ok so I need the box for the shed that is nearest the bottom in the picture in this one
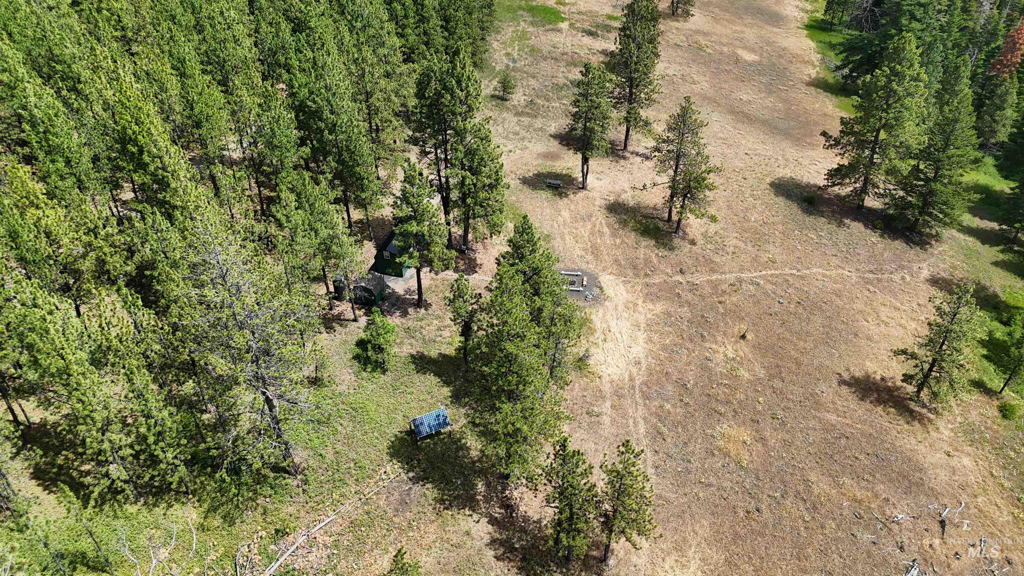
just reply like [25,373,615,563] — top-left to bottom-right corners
[350,268,388,305]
